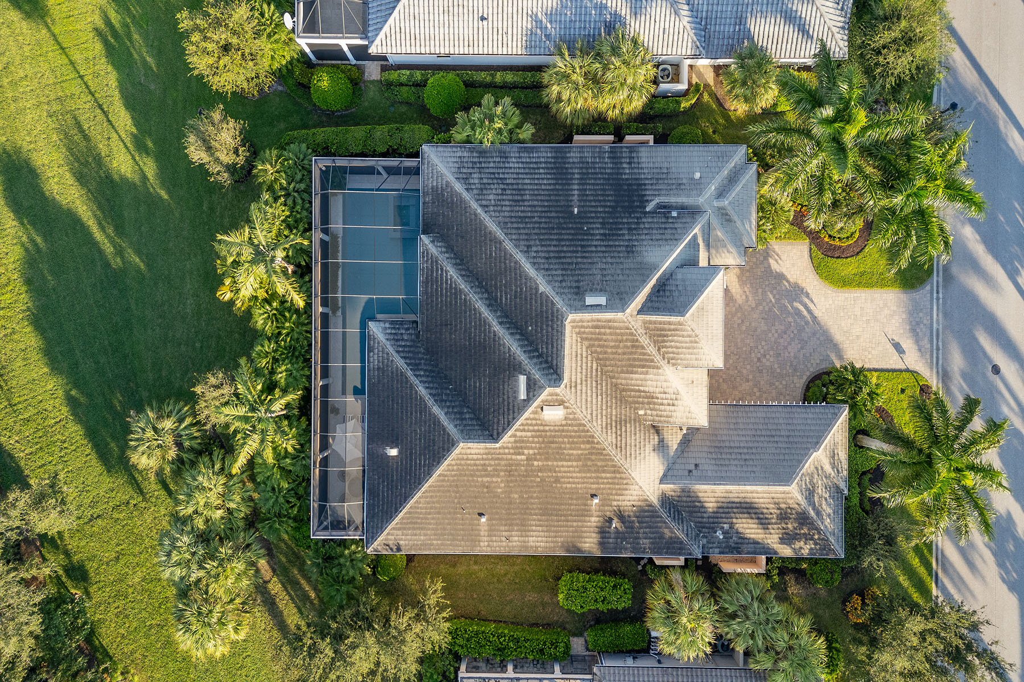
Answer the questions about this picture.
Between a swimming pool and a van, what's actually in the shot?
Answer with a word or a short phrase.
swimming pool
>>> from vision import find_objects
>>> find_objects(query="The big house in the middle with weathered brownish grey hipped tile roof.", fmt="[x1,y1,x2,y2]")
[365,143,850,559]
